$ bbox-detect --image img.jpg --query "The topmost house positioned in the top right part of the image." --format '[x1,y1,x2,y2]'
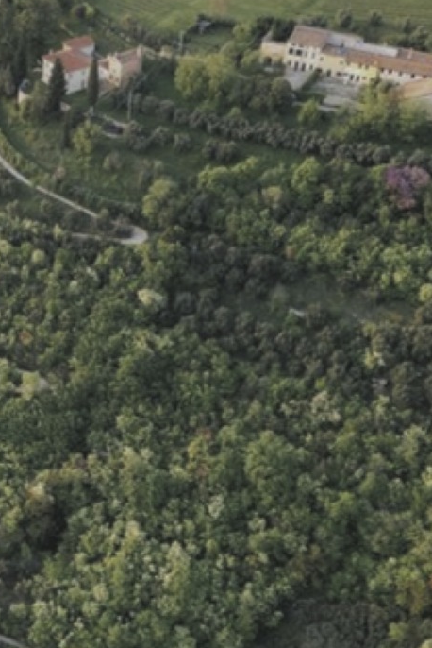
[263,18,432,84]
